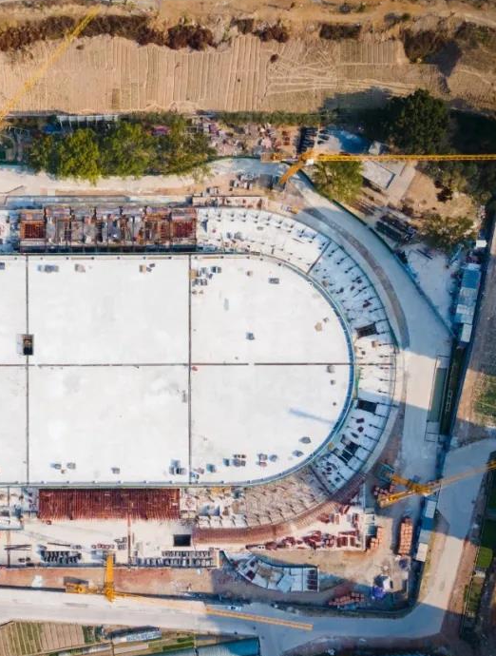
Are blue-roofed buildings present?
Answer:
Yes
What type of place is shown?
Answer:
sports ground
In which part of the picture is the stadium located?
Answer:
center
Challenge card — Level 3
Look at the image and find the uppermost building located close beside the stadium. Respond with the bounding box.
[236,554,318,592]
